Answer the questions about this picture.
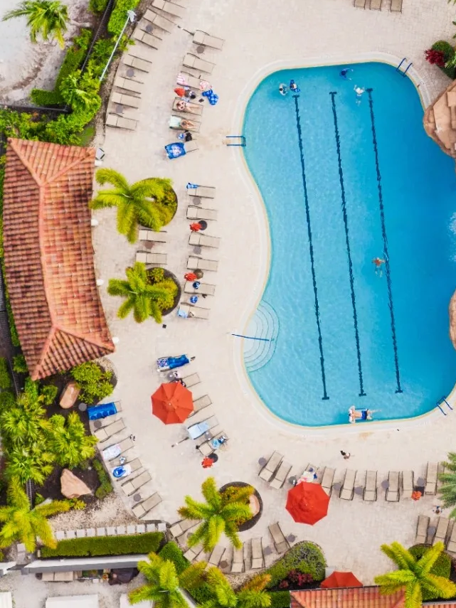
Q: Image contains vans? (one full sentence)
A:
No, I can't see a single van in this photo.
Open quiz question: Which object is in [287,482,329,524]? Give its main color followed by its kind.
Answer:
red umbrella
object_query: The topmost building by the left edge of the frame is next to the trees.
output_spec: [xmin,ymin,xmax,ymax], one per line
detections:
[0,136,115,382]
